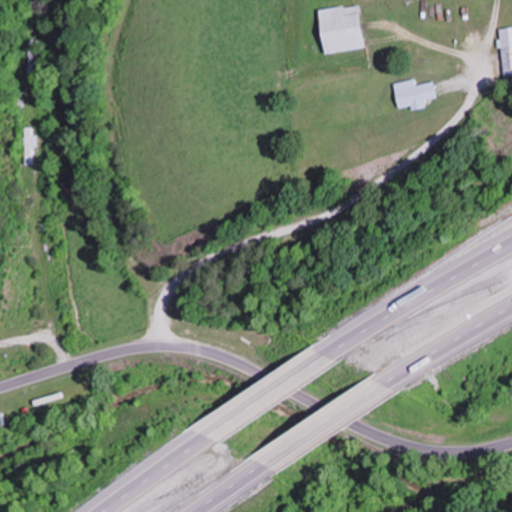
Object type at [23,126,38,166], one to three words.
house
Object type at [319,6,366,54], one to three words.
barn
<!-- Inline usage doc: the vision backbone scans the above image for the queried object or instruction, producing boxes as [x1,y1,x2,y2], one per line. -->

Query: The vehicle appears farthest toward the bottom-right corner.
[409,357,431,372]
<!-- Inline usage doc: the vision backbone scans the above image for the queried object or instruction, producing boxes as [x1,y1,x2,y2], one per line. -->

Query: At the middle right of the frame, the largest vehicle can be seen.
[391,285,429,310]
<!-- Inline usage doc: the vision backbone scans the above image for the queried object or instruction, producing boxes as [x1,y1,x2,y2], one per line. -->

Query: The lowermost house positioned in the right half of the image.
[394,79,436,110]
